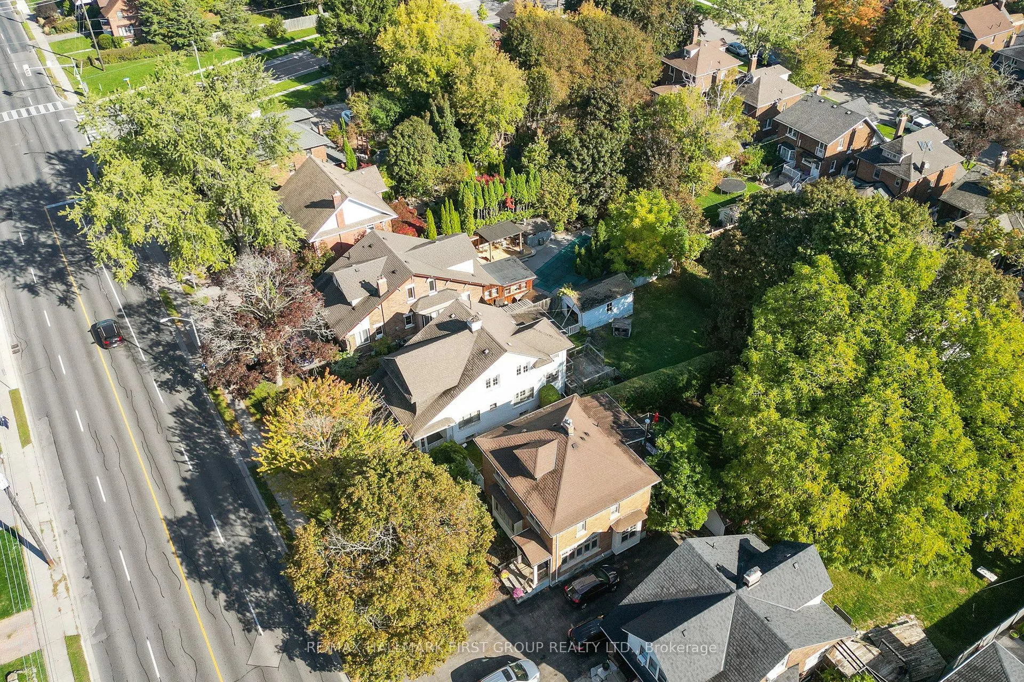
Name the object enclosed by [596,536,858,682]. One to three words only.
house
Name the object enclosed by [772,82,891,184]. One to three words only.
house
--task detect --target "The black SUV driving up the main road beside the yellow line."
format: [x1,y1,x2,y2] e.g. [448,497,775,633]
[93,318,124,350]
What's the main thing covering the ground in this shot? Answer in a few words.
trees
